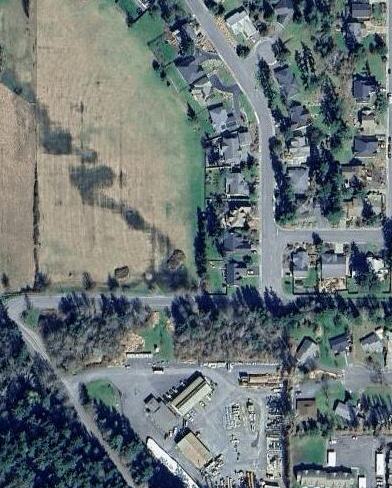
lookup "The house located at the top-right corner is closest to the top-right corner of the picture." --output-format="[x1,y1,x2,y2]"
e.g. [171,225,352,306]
[351,0,371,21]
